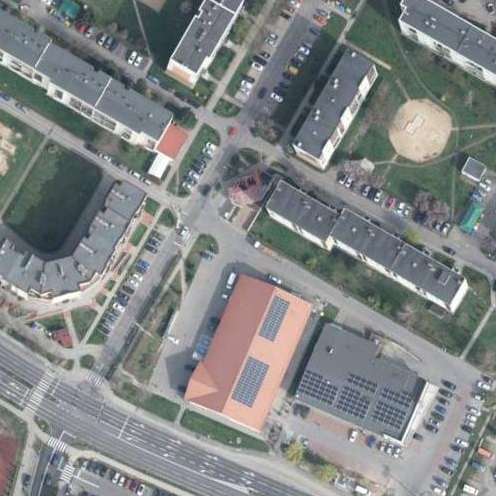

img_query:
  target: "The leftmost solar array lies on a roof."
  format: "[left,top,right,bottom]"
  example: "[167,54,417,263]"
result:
[233,357,269,408]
